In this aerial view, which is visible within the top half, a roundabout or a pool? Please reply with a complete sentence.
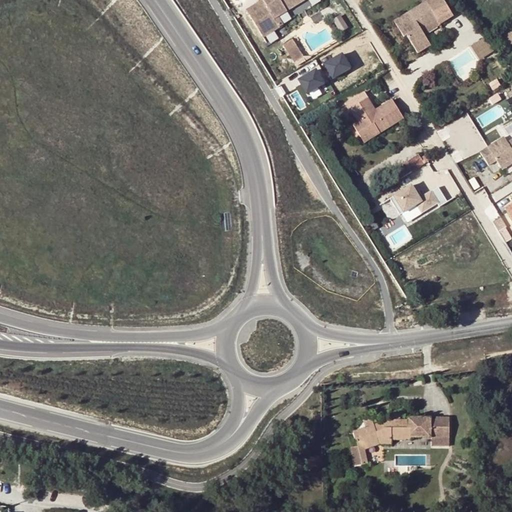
The one visible within the top half is a pool.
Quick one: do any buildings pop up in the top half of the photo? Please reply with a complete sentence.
Yes, a building shows up in the top half of the photo.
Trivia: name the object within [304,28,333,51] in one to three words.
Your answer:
swimming pool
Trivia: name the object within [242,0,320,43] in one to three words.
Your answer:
house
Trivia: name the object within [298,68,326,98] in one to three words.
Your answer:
house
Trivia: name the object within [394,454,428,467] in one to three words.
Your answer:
swimming pool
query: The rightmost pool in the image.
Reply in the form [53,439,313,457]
[475,104,505,129]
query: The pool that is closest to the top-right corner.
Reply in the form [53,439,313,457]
[450,48,477,74]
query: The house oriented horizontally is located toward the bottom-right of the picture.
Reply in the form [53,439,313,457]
[350,416,450,467]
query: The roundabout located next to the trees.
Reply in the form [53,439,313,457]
[216,294,318,398]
